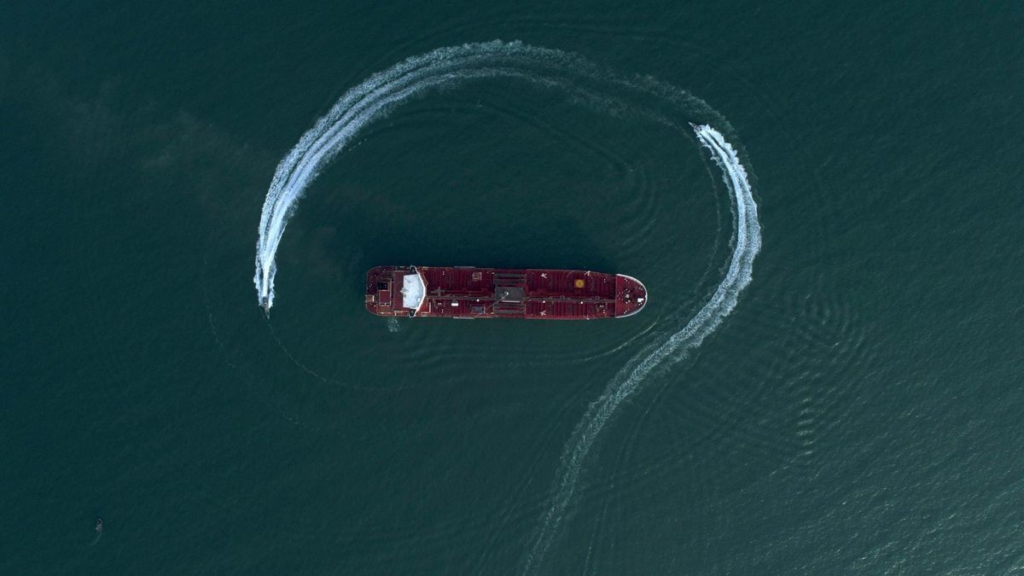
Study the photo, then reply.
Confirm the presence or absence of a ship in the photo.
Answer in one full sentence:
Yes, you can see a ship in this photo.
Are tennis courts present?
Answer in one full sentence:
No, I find no tennis court anywhere in the image.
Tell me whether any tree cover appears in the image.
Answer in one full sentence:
No, there is no tree cover in the image.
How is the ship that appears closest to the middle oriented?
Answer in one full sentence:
From this overhead view, the ship that appears closest to the middle appears to run from side to side.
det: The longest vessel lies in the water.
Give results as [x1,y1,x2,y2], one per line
[365,266,648,319]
